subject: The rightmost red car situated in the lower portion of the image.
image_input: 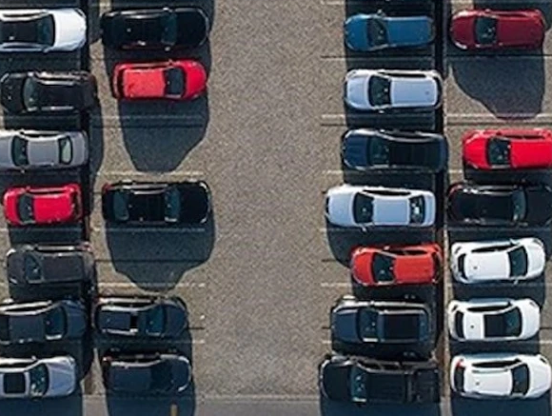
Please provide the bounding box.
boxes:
[349,241,445,292]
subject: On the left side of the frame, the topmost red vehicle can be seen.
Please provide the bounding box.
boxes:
[111,58,208,107]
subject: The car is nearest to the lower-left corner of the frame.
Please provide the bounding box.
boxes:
[0,352,80,405]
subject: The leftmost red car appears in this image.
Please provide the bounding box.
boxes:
[2,183,83,231]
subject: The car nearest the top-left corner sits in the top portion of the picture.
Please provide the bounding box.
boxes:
[0,6,88,55]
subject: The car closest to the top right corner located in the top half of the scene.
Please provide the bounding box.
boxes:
[448,7,550,53]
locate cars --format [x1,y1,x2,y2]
[6,241,98,294]
[93,295,189,348]
[100,6,209,53]
[101,352,193,403]
[344,67,444,115]
[460,128,552,177]
[339,128,450,176]
[446,183,552,234]
[0,298,87,349]
[324,184,437,233]
[2,183,83,231]
[349,241,445,292]
[445,296,542,347]
[448,238,547,288]
[343,7,438,56]
[111,58,208,107]
[101,181,212,228]
[448,353,552,406]
[448,7,550,53]
[0,352,80,405]
[0,6,88,55]
[0,70,98,120]
[330,300,433,352]
[0,130,88,176]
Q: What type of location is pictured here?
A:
parking lot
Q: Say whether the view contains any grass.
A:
No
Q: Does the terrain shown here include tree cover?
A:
No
